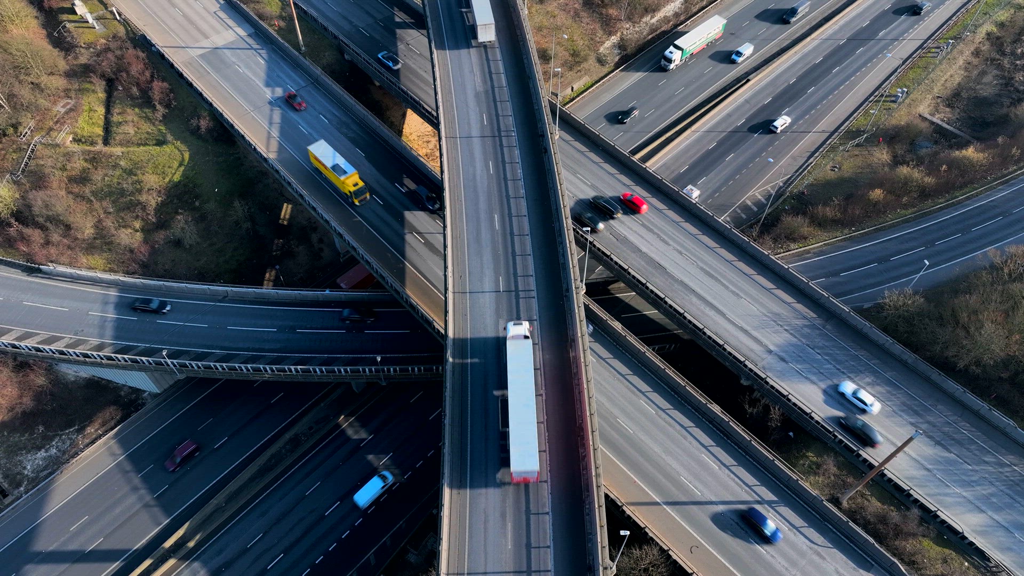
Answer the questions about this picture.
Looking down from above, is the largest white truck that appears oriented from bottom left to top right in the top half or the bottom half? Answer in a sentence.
The largest white truck that appears oriented from bottom left to top right is in the top half of the image.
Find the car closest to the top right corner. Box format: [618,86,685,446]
[912,2,929,15]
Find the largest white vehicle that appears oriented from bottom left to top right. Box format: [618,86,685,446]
[658,17,722,74]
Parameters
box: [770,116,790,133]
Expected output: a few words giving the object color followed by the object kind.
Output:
white car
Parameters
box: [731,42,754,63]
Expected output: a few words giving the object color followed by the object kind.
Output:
white vehicle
